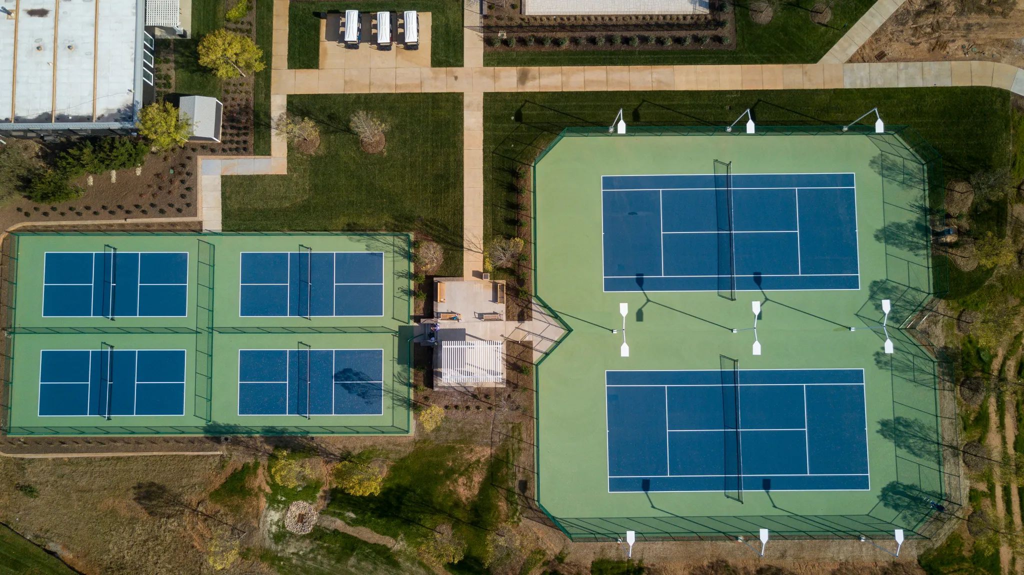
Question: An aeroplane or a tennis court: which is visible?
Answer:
tennis court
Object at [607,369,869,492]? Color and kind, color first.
blue tennis court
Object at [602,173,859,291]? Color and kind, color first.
blue tennis court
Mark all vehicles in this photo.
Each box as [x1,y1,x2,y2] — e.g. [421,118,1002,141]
[377,12,394,52]
[406,12,421,51]
[343,11,362,50]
